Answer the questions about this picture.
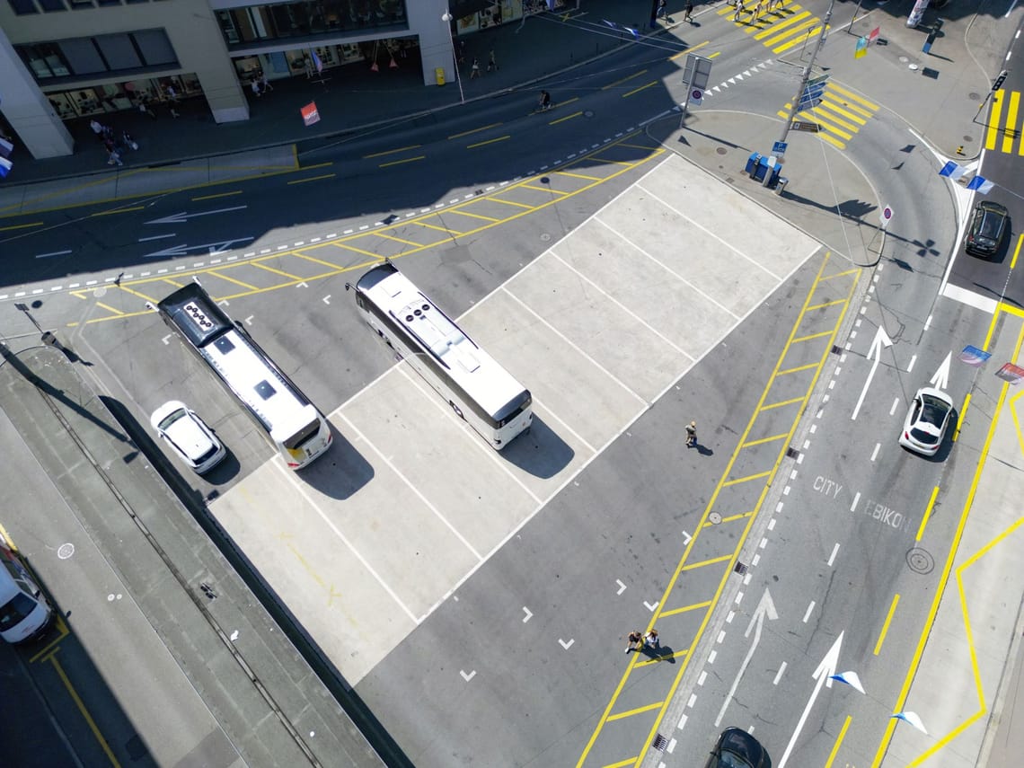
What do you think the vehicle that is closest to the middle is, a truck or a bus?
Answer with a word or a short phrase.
bus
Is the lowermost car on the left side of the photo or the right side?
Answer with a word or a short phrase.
right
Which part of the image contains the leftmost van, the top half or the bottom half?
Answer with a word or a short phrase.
bottom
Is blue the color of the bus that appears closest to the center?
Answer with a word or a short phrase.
No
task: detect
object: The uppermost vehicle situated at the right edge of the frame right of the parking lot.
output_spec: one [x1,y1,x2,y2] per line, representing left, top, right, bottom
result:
[960,203,1009,264]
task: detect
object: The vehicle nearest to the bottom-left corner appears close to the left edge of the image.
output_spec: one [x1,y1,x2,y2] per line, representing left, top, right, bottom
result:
[0,540,54,647]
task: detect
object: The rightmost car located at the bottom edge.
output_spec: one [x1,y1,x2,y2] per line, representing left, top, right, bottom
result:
[706,726,757,768]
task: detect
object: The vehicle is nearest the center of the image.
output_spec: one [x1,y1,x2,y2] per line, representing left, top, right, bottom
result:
[342,253,530,446]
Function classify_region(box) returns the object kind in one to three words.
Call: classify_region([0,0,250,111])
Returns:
building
